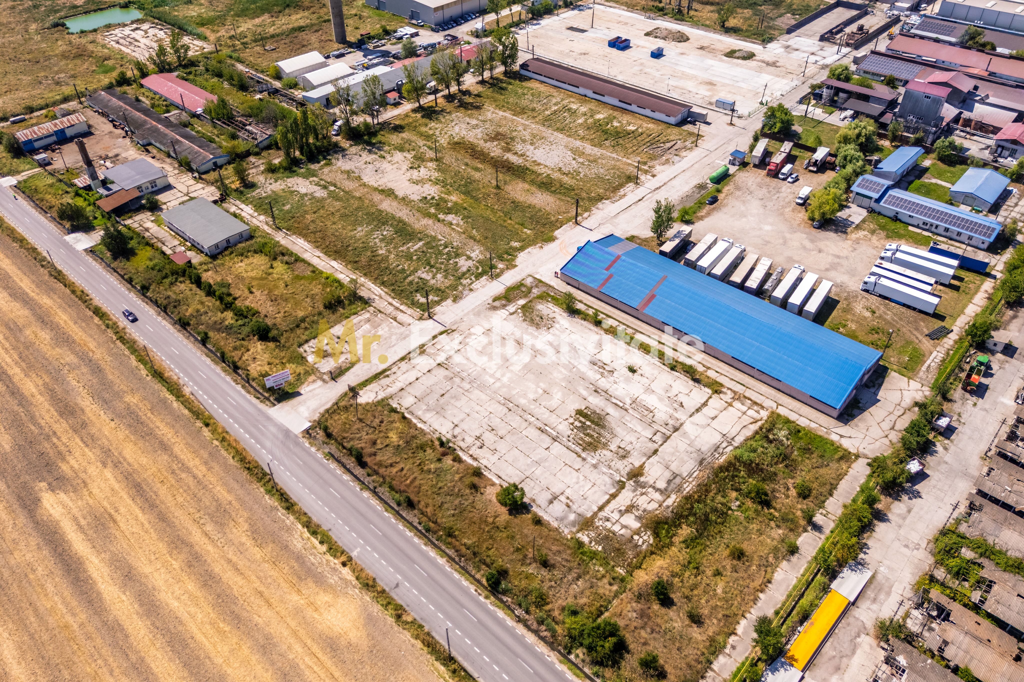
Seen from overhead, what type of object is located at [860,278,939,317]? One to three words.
truck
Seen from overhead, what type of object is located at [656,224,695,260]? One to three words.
trailer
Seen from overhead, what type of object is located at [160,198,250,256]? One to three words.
building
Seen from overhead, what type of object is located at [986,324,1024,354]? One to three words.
shed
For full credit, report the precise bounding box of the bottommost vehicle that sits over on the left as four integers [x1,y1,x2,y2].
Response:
[122,305,138,320]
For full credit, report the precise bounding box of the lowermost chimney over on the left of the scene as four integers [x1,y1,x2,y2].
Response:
[75,136,103,191]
